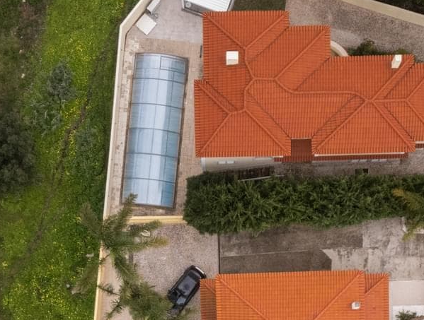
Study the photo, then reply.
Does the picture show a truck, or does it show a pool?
pool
